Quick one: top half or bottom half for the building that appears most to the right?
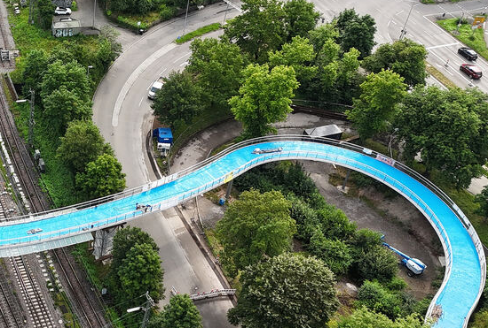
top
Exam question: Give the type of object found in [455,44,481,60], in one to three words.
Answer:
car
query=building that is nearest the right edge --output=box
[53,16,87,37]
